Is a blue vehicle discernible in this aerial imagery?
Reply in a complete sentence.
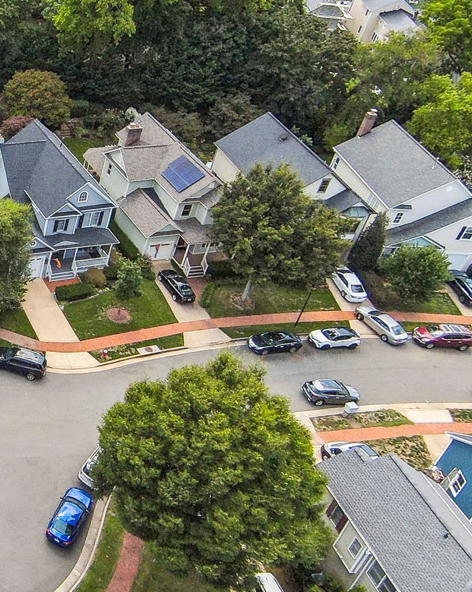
Yes, a blue vehicle appears in the view.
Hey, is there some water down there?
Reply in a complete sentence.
No, water can't be seen anywhere here.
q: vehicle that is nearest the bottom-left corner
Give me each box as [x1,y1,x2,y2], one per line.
[50,481,94,545]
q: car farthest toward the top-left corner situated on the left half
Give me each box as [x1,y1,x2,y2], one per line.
[153,266,197,300]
